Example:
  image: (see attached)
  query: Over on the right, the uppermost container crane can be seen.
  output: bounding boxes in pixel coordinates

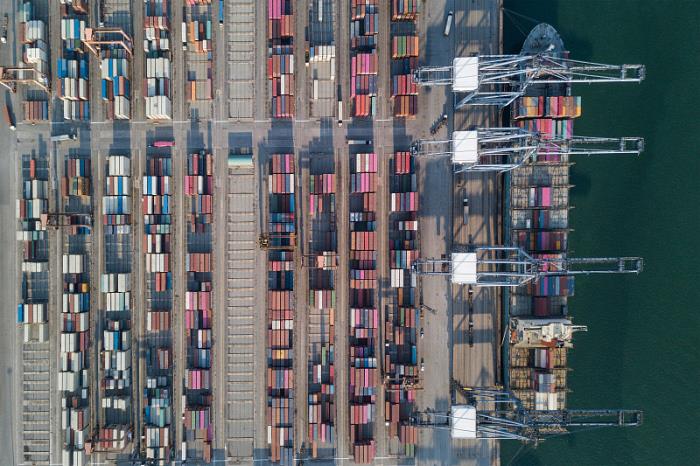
[407,51,649,118]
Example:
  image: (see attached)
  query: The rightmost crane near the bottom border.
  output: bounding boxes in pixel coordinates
[407,370,649,445]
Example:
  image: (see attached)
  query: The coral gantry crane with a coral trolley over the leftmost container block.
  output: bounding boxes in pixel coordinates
[0,67,51,94]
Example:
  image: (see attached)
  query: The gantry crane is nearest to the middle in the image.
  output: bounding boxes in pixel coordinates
[297,251,339,270]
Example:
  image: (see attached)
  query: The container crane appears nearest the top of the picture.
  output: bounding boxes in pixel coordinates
[79,27,134,57]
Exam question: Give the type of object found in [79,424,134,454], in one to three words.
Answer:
container crane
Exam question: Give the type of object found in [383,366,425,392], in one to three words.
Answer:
container crane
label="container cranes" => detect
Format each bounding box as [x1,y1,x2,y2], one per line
[407,51,649,118]
[34,211,93,230]
[0,67,51,94]
[407,128,649,180]
[253,233,297,251]
[297,251,339,270]
[383,366,425,392]
[79,424,134,454]
[79,27,134,57]
[407,370,649,445]
[407,241,649,286]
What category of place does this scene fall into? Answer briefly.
port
